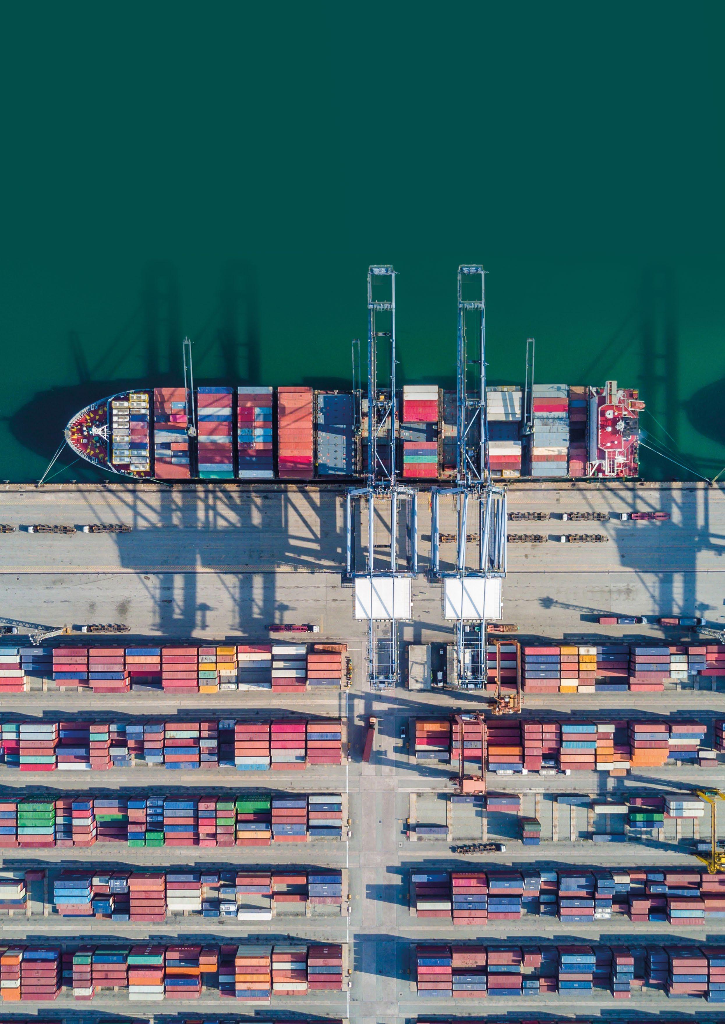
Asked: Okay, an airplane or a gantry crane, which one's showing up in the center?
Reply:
gantry crane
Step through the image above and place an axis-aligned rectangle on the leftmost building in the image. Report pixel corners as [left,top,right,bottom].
[408,644,431,689]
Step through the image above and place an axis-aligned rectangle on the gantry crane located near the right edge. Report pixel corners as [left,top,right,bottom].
[690,785,725,872]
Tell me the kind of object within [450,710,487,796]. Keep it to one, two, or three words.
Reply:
container crane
